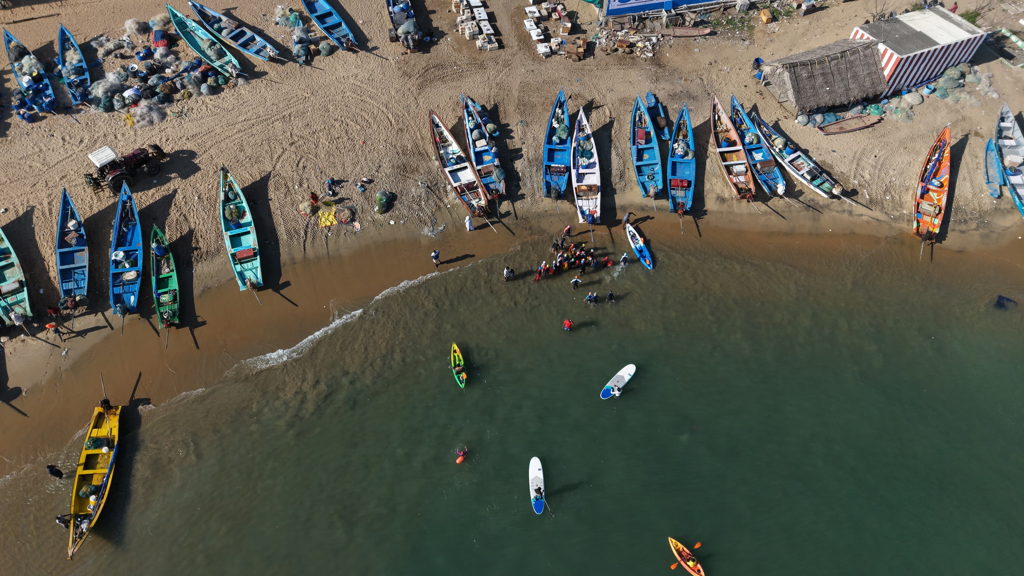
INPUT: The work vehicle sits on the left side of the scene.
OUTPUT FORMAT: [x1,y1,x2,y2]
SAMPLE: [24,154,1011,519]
[84,144,165,197]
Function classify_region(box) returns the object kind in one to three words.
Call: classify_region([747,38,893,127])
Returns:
shed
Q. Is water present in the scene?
Yes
